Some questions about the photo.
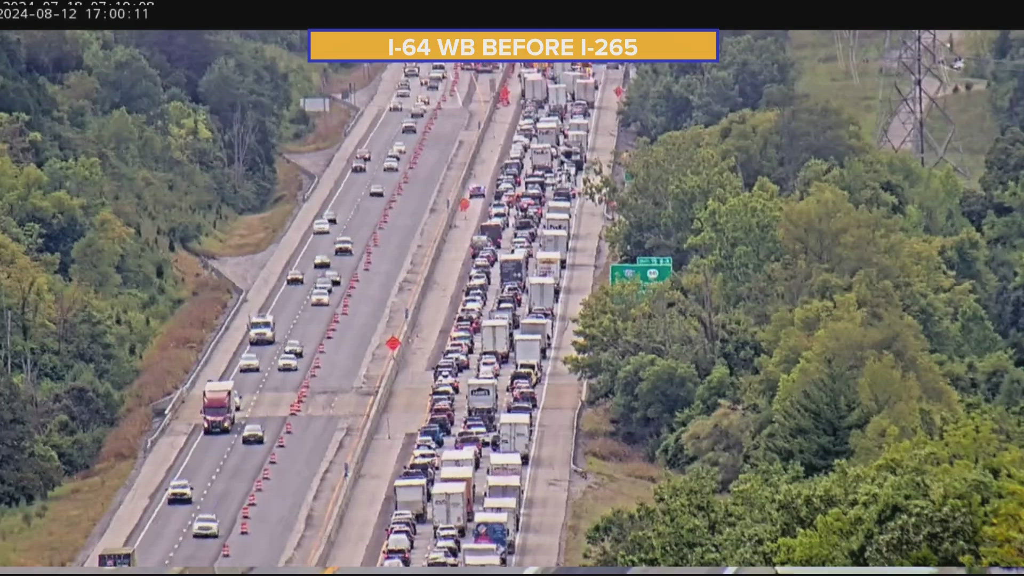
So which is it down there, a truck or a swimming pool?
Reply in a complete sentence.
It is a truck that can be seen here.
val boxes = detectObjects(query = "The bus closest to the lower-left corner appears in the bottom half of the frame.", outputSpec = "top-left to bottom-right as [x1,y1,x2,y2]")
[96,546,136,576]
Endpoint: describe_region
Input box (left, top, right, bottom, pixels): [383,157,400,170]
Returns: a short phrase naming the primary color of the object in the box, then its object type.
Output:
white vehicle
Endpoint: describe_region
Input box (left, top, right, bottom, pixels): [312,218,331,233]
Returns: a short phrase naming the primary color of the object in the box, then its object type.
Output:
white car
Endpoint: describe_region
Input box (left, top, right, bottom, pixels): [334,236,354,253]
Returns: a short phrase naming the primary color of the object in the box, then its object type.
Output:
white vehicle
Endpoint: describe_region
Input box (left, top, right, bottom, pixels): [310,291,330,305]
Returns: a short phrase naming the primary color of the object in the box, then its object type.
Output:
white car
